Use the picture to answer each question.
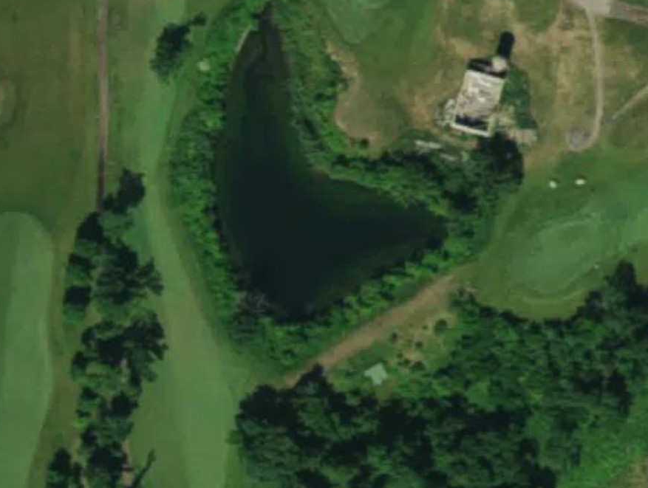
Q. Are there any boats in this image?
No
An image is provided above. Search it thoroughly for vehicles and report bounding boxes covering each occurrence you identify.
[550,180,557,190]
[575,180,586,186]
